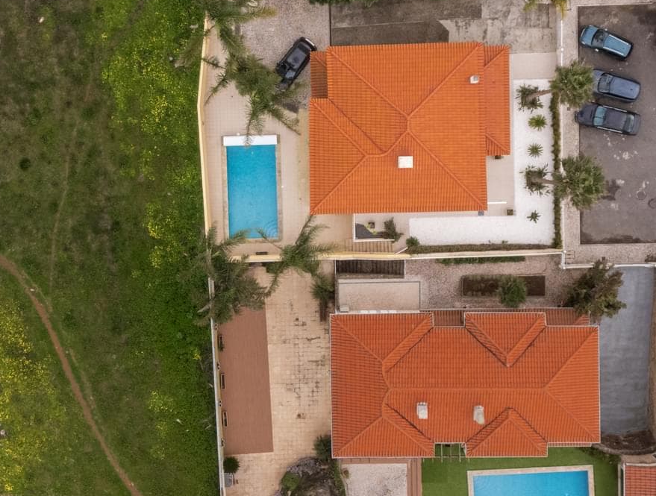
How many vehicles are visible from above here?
four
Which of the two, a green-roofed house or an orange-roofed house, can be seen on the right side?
orange-roofed house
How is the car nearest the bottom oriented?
from left to right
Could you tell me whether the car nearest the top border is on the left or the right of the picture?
right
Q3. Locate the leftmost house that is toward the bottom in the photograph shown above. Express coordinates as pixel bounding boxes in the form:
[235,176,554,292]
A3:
[329,309,602,460]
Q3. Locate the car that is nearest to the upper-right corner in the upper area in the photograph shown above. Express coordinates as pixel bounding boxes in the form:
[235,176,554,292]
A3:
[578,26,635,60]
